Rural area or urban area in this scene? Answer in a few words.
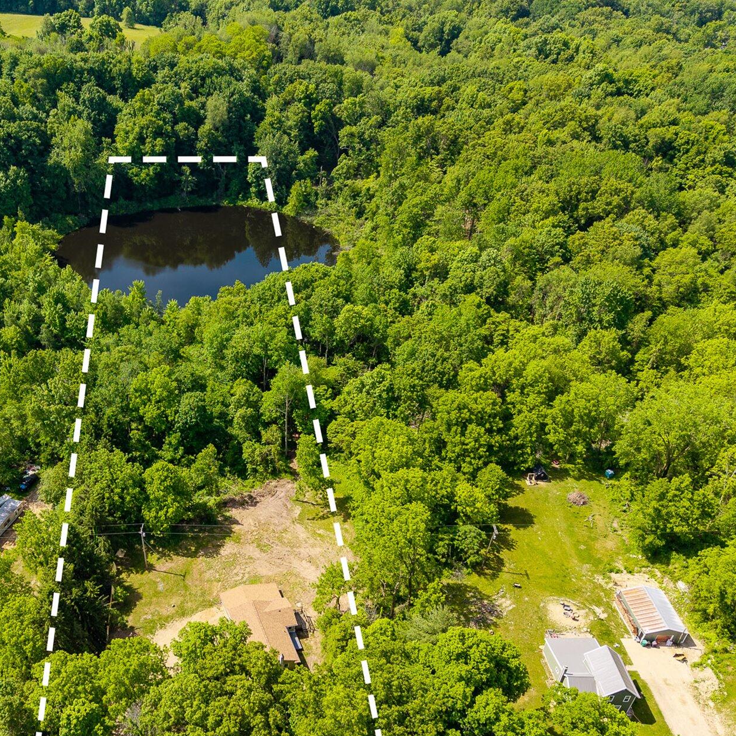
rural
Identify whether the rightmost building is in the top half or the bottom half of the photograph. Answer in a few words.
bottom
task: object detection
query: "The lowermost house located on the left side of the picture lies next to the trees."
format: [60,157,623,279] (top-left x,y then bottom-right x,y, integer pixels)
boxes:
[219,582,305,678]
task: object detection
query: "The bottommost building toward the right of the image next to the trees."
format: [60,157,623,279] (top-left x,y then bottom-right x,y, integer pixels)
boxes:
[542,638,641,717]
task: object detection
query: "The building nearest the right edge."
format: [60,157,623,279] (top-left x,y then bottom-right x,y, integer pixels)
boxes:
[619,585,686,645]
